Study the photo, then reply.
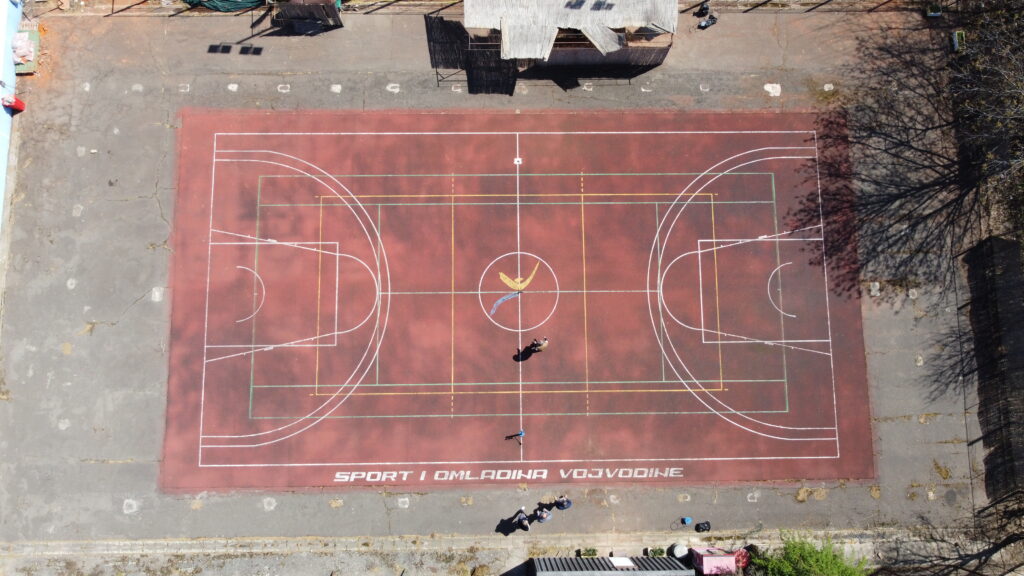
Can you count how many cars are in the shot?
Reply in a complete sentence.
The photo contains no cars.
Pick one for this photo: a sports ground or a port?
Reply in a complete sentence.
What you see here is a sports ground.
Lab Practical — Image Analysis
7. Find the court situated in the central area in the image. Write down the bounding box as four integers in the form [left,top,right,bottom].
[160,107,877,490]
